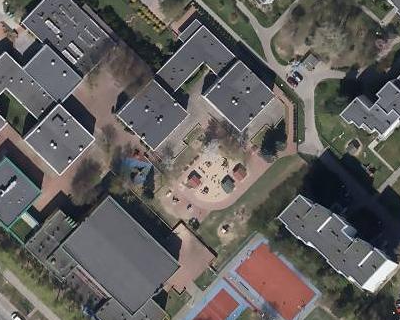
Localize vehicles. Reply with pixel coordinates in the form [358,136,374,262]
[288,75,299,86]
[11,313,23,320]
[294,71,303,81]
